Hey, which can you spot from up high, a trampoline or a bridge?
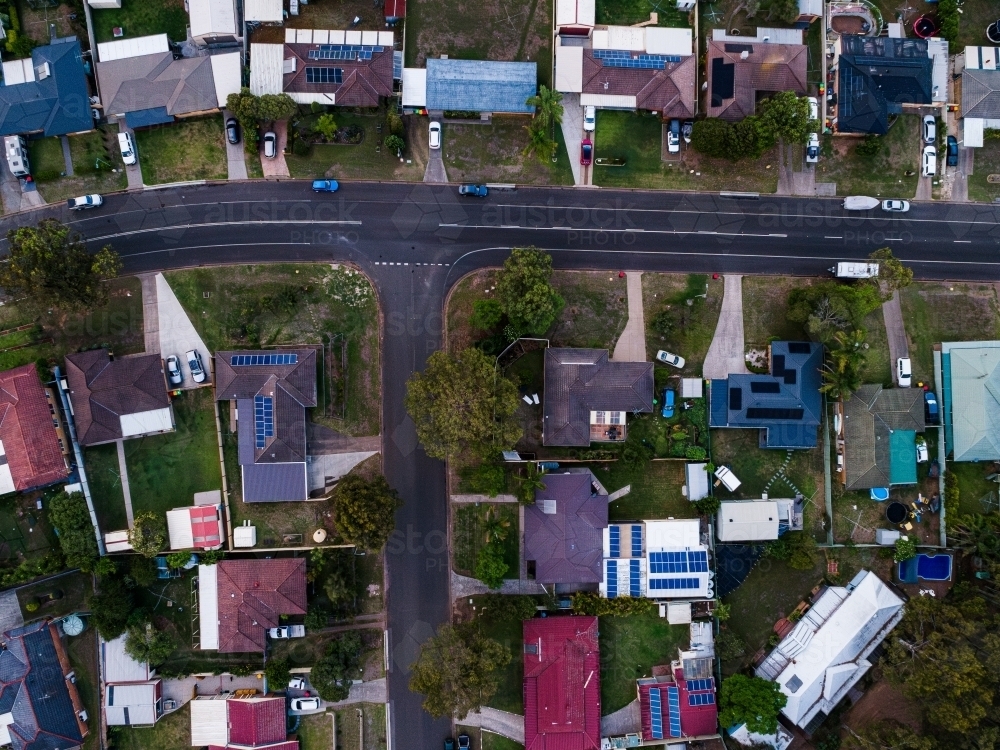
trampoline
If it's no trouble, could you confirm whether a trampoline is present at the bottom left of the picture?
No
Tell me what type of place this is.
residential area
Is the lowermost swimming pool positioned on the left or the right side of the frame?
right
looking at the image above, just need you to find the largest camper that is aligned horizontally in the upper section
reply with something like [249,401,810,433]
[823,262,877,278]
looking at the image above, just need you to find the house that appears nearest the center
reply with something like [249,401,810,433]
[542,348,654,447]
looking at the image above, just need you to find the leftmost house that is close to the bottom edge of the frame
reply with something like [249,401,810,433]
[0,619,90,750]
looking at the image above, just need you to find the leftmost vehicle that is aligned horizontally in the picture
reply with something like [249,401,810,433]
[68,193,104,210]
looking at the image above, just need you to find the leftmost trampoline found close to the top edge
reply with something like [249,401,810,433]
[912,14,935,37]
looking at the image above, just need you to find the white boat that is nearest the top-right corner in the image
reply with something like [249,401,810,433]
[840,195,881,211]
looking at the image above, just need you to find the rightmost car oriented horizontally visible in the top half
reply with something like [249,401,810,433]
[881,199,909,212]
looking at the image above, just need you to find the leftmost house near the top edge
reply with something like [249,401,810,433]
[0,35,99,141]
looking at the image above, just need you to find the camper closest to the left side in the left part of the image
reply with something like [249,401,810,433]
[7,136,34,185]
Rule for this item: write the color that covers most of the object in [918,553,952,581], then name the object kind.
blue swimming pool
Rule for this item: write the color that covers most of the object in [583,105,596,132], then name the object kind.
white vehicle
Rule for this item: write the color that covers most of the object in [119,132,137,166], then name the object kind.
white car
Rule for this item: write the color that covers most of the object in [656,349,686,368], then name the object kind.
white car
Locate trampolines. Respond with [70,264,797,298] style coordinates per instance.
[885,502,907,523]
[986,18,1000,43]
[912,14,935,37]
